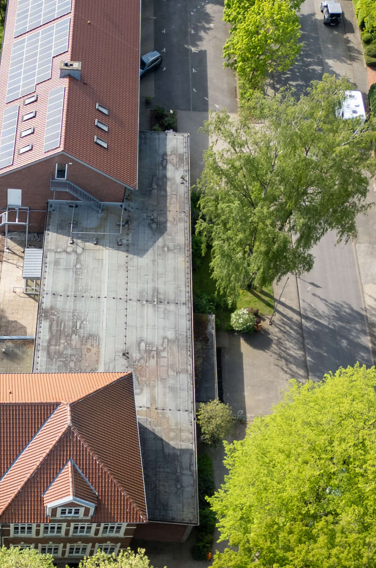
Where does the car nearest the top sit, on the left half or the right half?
right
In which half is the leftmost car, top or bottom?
top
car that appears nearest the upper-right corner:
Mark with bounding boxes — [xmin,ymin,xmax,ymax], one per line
[321,0,345,22]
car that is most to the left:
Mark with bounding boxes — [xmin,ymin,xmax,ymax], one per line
[139,51,169,85]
